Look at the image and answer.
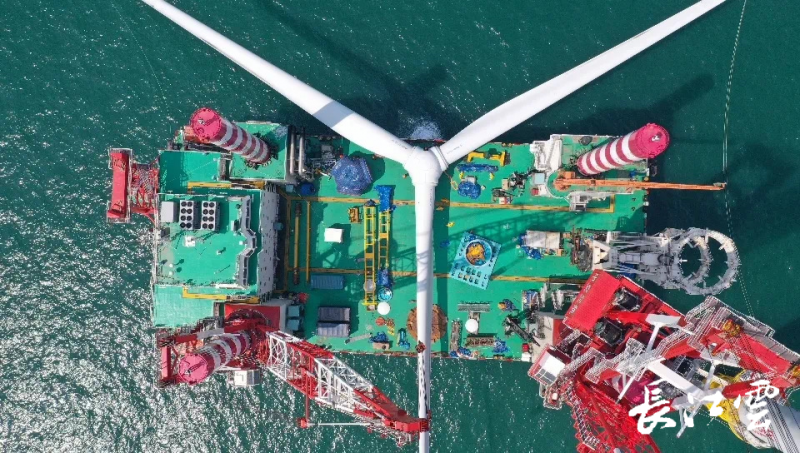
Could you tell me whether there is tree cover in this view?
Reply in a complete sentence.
No, no tree cover is visible.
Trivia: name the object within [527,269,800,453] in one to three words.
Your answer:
crane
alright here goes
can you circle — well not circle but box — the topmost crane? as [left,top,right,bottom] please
[546,171,731,195]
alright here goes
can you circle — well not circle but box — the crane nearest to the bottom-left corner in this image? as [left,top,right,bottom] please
[152,305,438,444]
